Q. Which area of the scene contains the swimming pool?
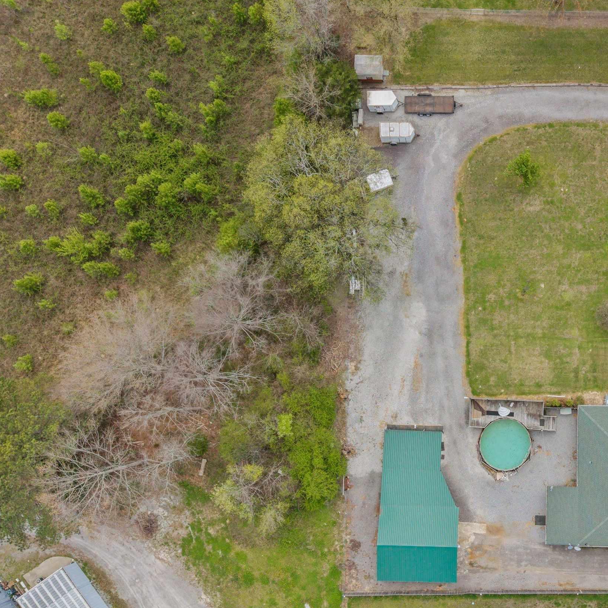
bottom right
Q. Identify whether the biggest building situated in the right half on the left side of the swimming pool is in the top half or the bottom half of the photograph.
bottom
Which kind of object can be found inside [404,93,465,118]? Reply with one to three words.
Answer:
trailer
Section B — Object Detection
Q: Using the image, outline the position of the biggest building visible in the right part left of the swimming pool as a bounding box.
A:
[376,424,459,582]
